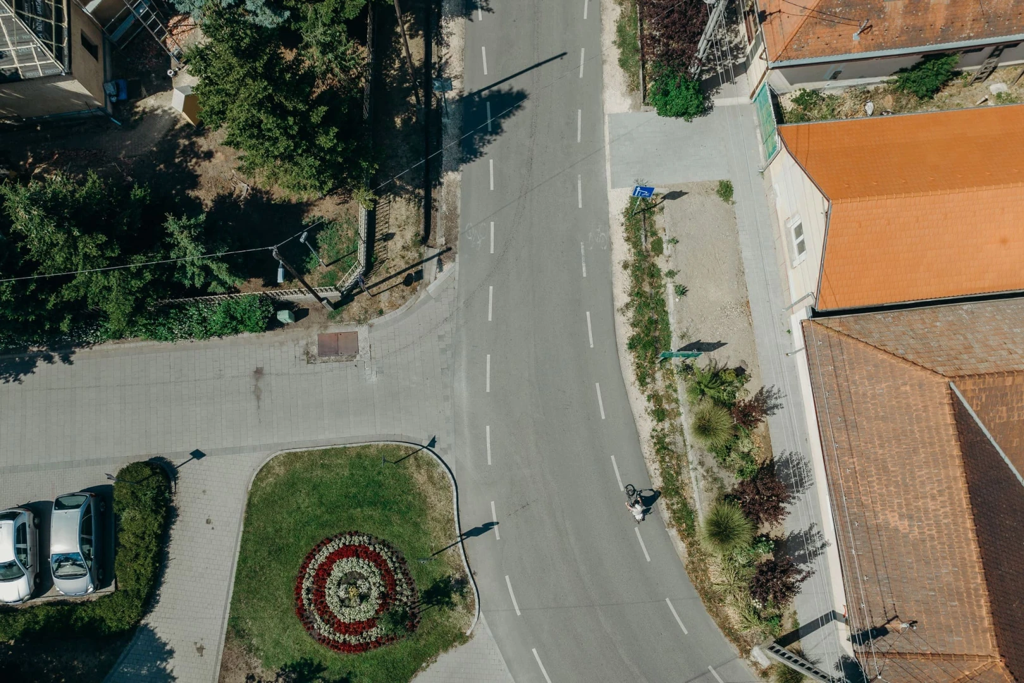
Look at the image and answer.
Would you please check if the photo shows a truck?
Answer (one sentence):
No, there's no truck here.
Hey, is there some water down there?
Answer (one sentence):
No, no water is visible.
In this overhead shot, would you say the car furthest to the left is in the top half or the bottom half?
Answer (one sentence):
The car furthest to the left sits in the bottom half of the picture.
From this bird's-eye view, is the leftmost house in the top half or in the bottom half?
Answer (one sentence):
Seen from above, the leftmost house lies in the top half of the view.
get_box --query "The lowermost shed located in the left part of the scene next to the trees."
[170,84,208,125]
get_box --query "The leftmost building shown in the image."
[0,0,153,123]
